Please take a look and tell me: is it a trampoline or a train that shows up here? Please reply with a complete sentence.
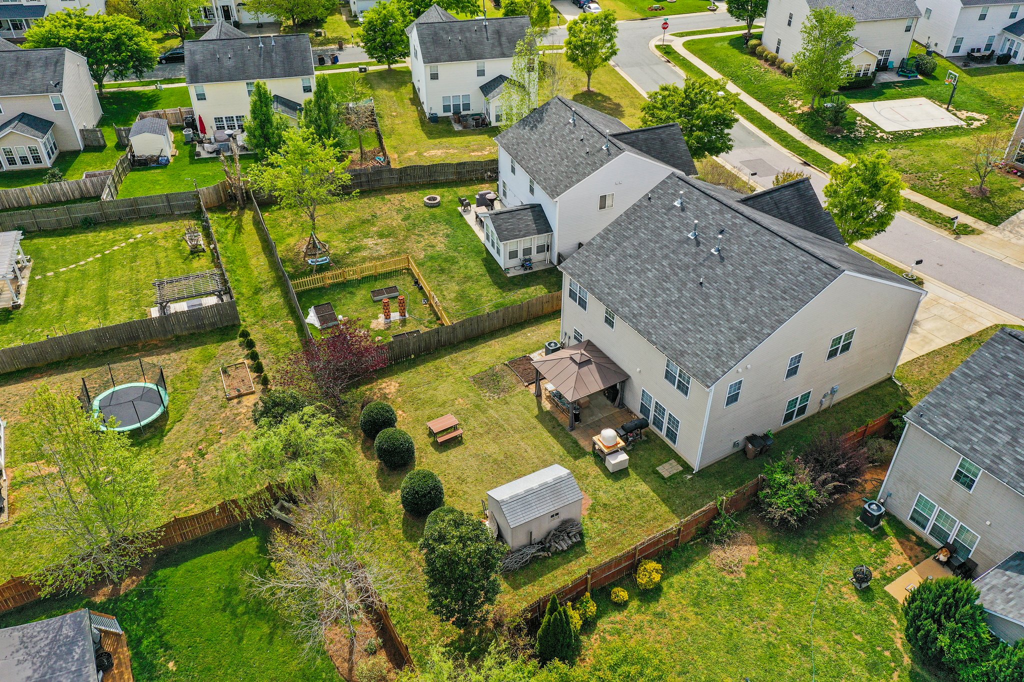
The image shows a trampoline.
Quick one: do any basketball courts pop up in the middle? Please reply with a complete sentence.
No, no basketball court is visible in the middle.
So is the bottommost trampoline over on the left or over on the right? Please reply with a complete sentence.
The bottommost trampoline sits on the left side.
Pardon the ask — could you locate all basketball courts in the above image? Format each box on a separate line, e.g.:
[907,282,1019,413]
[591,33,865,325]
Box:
[851,96,971,131]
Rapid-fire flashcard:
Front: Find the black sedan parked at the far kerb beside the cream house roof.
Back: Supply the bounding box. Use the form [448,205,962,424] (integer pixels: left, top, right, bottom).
[157,47,187,64]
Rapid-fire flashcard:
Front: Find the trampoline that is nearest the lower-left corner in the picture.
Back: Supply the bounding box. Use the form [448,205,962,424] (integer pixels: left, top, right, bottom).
[74,360,172,444]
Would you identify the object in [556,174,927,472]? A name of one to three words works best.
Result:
house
